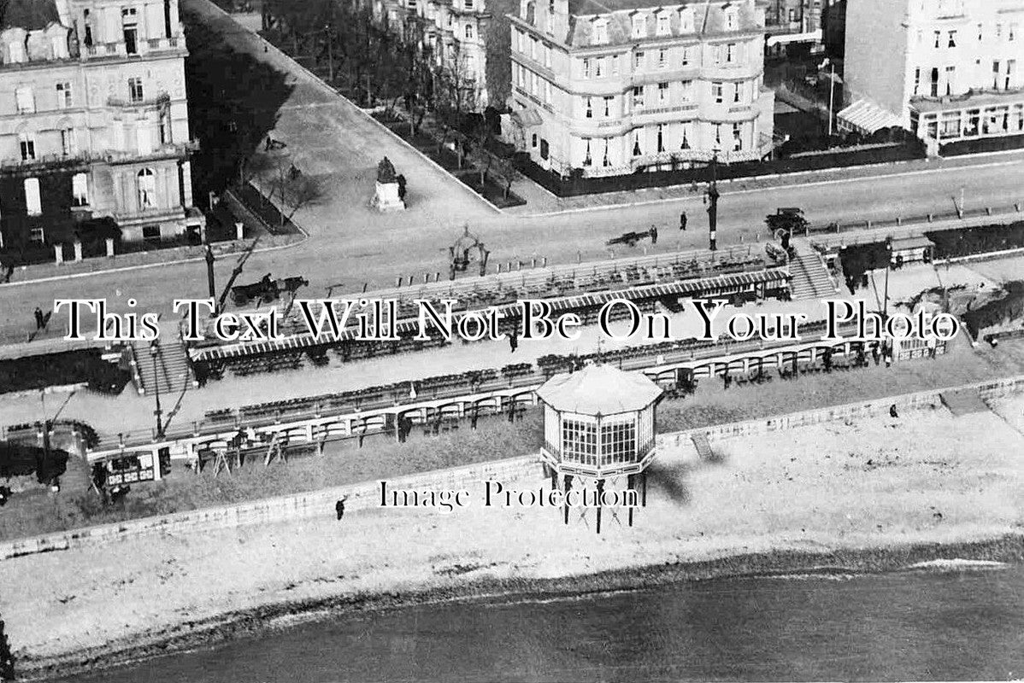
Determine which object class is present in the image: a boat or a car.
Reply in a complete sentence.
I can see a car in this picture.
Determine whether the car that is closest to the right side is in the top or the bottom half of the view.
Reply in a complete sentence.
The car that is closest to the right side is in the top half of the image.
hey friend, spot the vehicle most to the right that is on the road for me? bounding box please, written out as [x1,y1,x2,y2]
[758,209,805,237]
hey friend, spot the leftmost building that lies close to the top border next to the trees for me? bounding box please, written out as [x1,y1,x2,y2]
[0,0,213,253]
